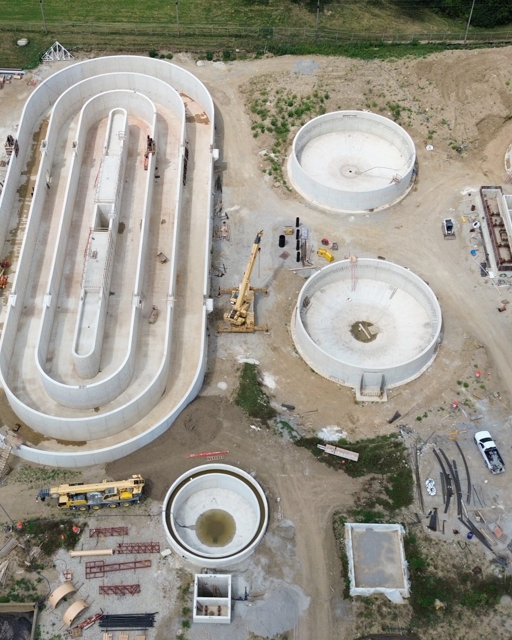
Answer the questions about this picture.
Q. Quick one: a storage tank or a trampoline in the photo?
storage tank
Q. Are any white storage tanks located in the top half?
Yes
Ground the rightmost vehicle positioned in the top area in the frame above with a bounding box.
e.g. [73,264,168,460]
[443,212,458,239]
